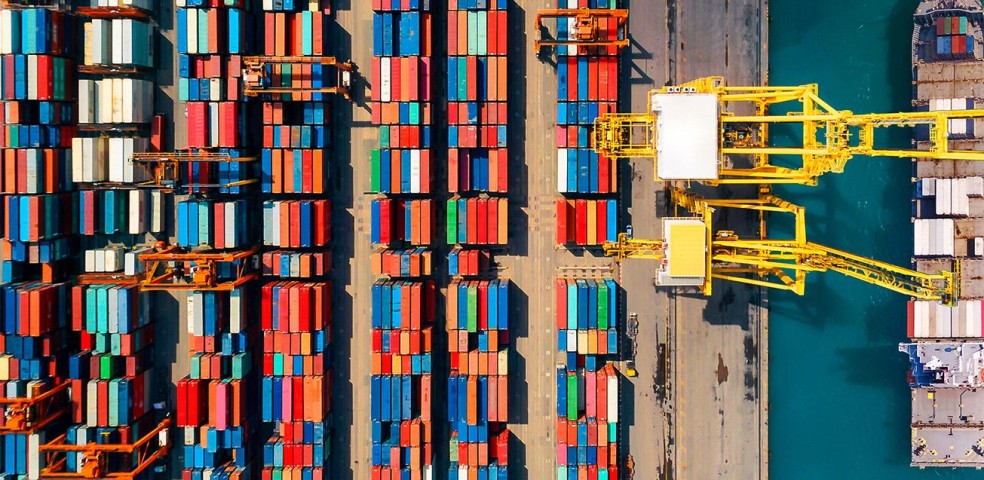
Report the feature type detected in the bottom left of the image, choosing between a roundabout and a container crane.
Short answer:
container crane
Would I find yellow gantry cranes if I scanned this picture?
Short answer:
Yes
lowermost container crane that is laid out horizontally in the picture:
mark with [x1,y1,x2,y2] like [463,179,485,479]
[36,407,180,480]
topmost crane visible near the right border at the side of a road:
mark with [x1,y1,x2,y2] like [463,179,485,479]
[594,73,984,192]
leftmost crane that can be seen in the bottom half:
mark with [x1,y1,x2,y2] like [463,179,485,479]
[0,376,72,436]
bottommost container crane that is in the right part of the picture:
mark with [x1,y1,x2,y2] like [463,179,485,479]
[604,187,959,305]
